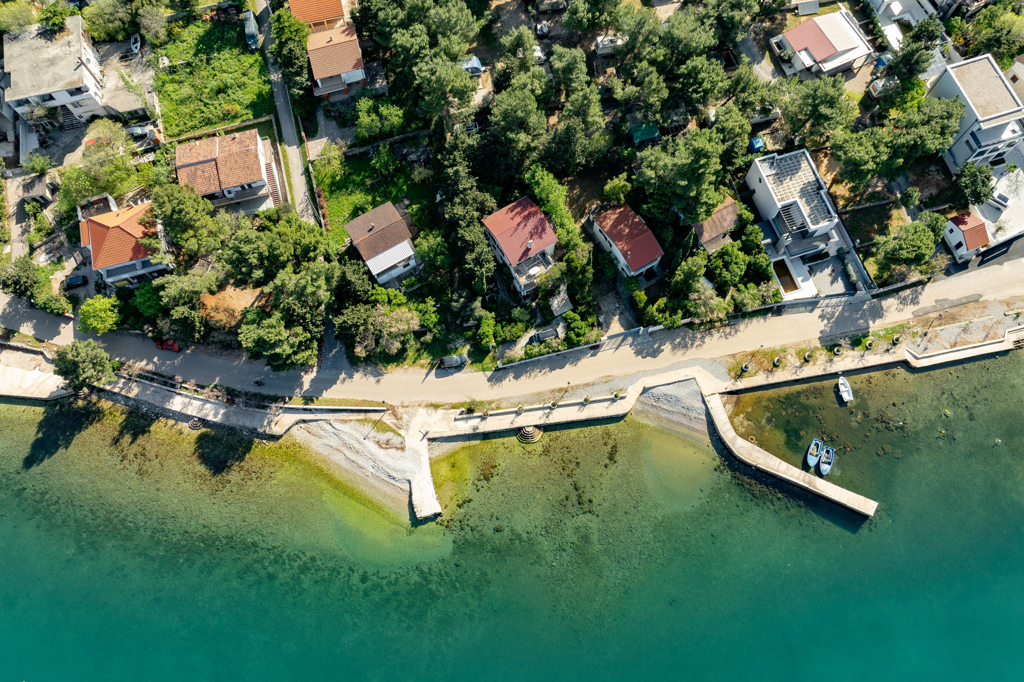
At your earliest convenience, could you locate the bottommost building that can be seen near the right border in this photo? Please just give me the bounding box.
[936,212,989,266]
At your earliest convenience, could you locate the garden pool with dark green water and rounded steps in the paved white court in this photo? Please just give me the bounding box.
[891,13,918,38]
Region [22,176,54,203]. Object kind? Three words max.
shed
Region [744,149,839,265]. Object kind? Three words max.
house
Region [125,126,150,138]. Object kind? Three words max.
vehicle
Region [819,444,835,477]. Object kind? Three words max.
boat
